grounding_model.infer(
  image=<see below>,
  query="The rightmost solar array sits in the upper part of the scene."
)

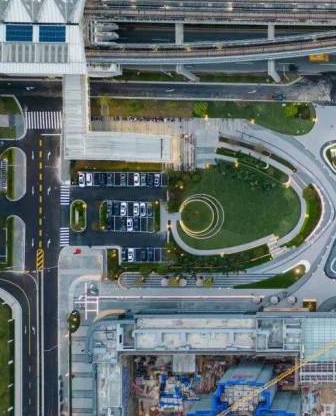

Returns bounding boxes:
[40,25,66,41]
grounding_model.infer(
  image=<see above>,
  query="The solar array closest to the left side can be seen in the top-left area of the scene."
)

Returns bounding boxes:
[6,25,33,41]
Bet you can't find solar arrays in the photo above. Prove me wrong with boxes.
[40,25,66,41]
[6,25,33,41]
